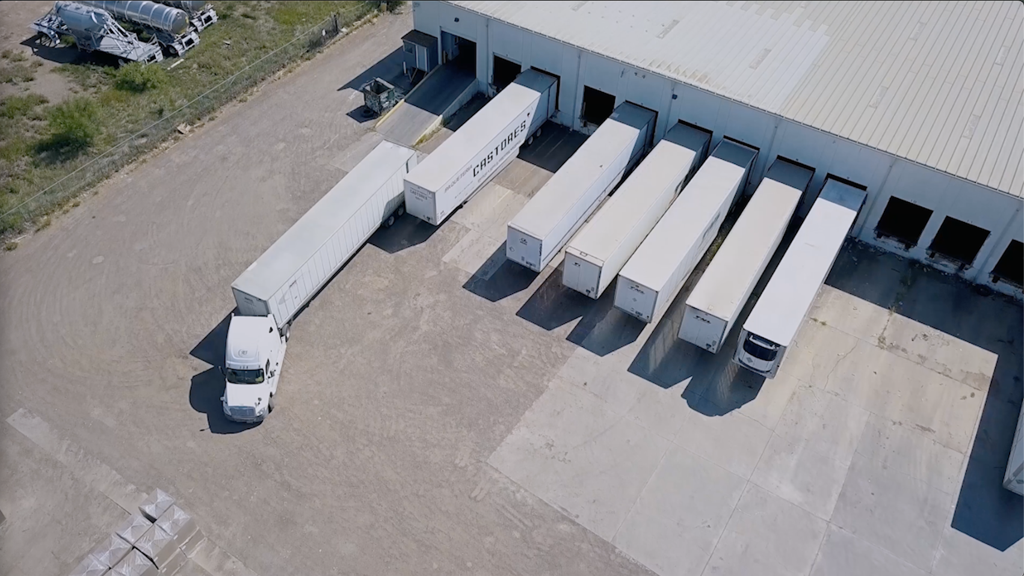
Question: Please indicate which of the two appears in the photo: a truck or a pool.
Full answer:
Of the two, only a truck appears.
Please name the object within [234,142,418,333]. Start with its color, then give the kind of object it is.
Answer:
white trailer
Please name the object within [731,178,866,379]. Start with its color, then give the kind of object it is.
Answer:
white trailer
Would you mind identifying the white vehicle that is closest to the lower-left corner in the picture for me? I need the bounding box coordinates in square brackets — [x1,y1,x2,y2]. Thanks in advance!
[218,313,297,423]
